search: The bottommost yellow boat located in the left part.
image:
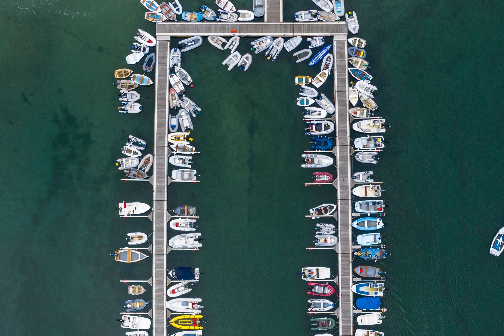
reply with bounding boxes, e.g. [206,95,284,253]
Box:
[168,314,203,330]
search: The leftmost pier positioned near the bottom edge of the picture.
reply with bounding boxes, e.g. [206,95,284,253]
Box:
[152,254,167,336]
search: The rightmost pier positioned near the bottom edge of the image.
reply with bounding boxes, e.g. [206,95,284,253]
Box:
[337,253,353,335]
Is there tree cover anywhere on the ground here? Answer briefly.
No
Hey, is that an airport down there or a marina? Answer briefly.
marina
